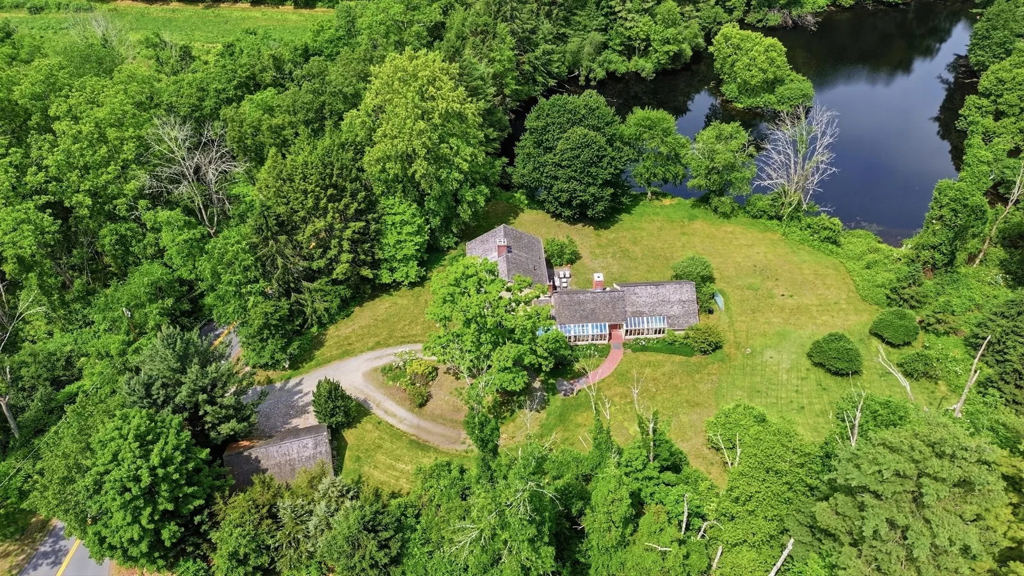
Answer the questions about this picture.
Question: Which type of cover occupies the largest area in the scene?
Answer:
trees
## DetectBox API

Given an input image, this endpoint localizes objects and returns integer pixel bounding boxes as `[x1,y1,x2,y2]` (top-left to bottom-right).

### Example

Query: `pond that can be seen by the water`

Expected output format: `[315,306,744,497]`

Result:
[488,3,982,248]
